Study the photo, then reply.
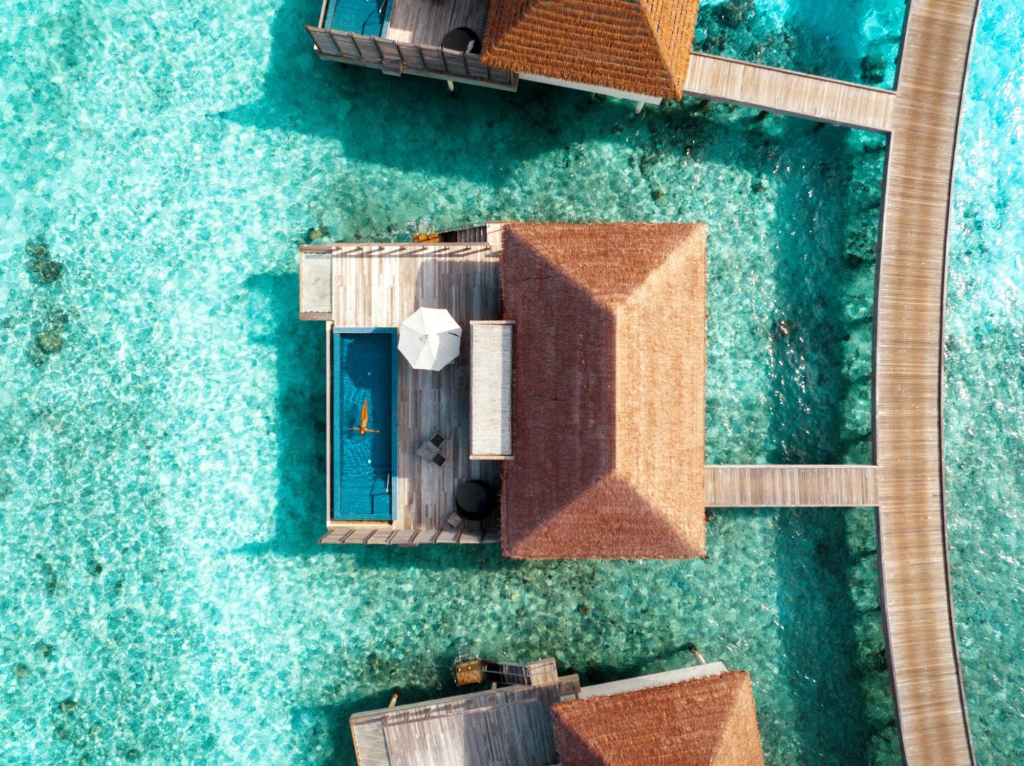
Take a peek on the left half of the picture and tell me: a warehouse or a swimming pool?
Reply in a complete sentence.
You can see a swimming pool on the left half of the picture.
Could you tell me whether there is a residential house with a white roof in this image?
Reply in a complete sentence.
No, I can see no residential house with a white roof in this picture.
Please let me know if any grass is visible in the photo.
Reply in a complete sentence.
No, no grass is visible.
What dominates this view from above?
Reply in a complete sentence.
The largest share of the image is taken up by water.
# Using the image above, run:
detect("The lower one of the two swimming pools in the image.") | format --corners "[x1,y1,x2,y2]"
[326,321,398,528]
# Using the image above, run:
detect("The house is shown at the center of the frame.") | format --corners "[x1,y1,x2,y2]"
[470,221,709,561]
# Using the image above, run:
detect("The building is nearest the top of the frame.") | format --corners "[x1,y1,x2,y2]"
[478,0,703,114]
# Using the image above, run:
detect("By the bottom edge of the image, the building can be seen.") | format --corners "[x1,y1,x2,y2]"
[546,656,771,766]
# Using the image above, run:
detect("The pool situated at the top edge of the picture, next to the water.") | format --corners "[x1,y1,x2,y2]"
[313,0,395,47]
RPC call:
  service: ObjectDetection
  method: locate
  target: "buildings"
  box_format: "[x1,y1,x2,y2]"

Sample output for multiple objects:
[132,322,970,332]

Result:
[478,0,703,114]
[546,656,771,766]
[470,221,709,561]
